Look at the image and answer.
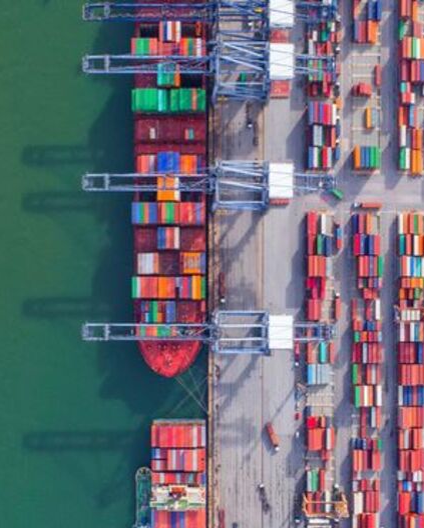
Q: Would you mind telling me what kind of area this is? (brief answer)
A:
port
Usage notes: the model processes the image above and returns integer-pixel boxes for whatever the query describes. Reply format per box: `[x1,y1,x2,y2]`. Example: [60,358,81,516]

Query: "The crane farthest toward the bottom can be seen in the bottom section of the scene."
[301,489,348,516]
